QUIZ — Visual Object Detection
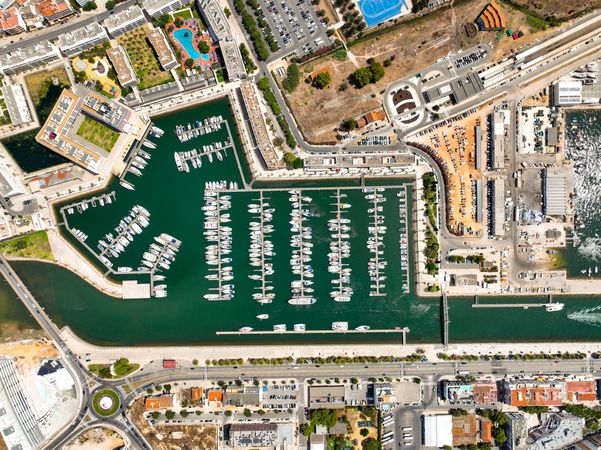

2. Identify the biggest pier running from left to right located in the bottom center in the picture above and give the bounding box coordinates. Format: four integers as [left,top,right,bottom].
[216,328,410,343]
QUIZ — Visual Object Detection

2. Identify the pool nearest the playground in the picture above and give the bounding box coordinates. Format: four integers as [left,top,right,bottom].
[166,17,220,70]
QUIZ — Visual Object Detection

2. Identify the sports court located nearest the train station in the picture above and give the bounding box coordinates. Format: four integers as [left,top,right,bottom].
[357,0,410,28]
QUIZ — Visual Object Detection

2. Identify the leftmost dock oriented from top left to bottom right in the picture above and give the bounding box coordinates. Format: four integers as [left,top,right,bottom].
[60,191,154,297]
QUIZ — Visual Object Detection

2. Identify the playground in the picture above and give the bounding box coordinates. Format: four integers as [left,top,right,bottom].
[72,57,121,97]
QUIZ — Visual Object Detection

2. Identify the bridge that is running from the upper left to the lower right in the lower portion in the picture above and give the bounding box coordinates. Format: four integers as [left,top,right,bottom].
[0,251,70,349]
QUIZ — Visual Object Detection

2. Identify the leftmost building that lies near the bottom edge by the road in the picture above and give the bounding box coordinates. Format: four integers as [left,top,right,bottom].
[0,340,53,450]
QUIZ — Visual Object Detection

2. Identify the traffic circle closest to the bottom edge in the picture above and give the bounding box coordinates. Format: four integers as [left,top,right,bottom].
[86,383,126,422]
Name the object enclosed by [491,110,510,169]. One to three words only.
building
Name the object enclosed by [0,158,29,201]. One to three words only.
building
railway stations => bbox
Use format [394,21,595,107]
[483,18,601,91]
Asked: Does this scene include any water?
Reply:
Yes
